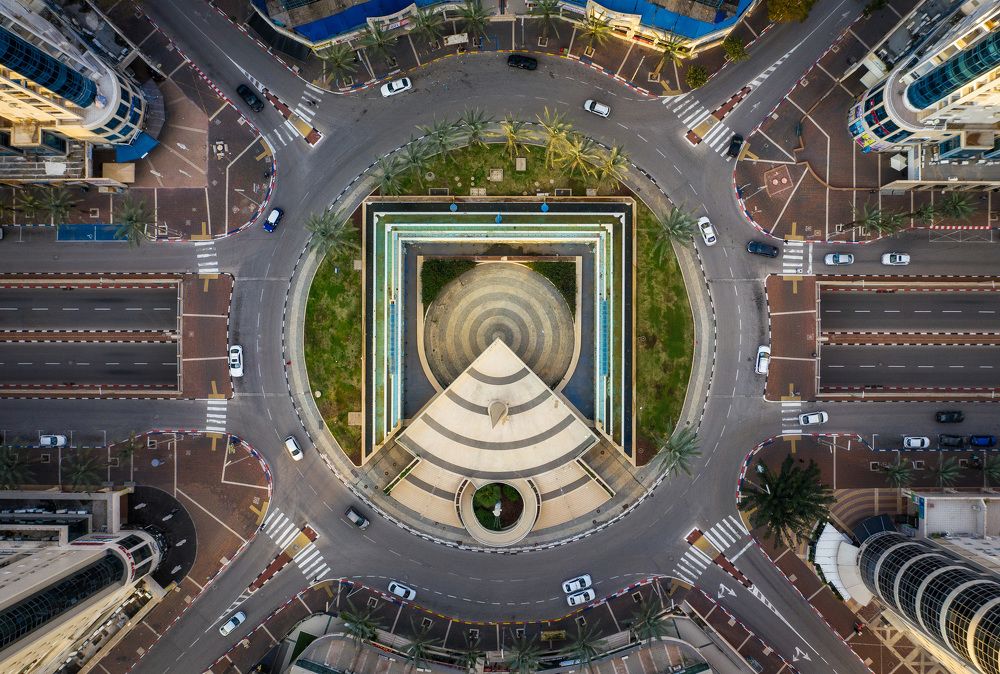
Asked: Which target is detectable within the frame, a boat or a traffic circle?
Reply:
traffic circle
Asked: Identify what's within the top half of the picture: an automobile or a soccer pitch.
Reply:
automobile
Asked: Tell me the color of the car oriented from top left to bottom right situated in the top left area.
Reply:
black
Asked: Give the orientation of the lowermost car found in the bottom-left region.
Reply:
diagonally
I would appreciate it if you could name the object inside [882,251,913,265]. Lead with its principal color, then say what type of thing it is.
white vehicle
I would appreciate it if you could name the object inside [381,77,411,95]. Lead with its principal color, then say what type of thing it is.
white car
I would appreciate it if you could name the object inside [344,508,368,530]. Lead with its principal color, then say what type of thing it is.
gray car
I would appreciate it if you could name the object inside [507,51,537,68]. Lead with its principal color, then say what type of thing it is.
black car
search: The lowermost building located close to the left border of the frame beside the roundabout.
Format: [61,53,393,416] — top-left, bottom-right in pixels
[0,525,170,674]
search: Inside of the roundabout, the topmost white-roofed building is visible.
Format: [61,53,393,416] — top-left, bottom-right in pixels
[382,339,615,547]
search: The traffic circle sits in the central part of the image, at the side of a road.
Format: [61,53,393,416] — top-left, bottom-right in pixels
[206,51,793,624]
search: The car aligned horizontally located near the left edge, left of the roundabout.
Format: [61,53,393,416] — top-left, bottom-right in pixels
[37,435,64,447]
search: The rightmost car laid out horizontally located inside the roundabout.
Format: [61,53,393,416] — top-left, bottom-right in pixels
[748,239,779,256]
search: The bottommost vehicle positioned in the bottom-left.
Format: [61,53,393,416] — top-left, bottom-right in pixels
[216,612,244,638]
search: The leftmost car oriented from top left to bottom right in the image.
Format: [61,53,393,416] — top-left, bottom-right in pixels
[234,82,263,110]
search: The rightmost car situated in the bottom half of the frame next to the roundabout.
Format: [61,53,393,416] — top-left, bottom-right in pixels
[800,411,829,426]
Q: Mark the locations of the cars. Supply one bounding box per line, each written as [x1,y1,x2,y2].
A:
[507,51,537,68]
[228,346,242,376]
[37,435,64,447]
[216,612,244,638]
[825,252,855,266]
[282,436,302,462]
[344,508,368,530]
[381,77,411,95]
[748,239,779,256]
[727,130,746,160]
[565,589,596,608]
[938,410,965,422]
[234,82,263,110]
[582,97,613,117]
[562,575,592,594]
[387,582,416,602]
[263,206,281,231]
[800,411,829,426]
[972,436,998,448]
[698,216,718,245]
[882,251,913,265]
[904,437,931,449]
[757,347,772,373]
